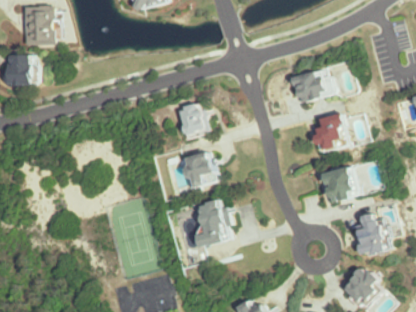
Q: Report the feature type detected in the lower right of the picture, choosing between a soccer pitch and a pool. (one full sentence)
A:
The feature located in the lower right of the picture is a pool.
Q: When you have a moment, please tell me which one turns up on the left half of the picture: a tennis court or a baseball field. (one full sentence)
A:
It is a tennis court that can be seen on the left half of the picture.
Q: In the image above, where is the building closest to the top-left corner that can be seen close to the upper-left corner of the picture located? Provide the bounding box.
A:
[23,2,66,46]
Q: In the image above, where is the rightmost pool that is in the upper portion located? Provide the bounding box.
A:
[398,101,416,130]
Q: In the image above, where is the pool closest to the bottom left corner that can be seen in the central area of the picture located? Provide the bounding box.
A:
[168,156,190,195]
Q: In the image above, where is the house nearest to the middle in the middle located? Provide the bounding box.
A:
[185,150,222,188]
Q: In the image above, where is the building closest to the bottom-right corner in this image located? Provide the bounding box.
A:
[344,265,384,311]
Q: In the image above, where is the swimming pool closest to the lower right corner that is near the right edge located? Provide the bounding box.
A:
[366,290,400,312]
